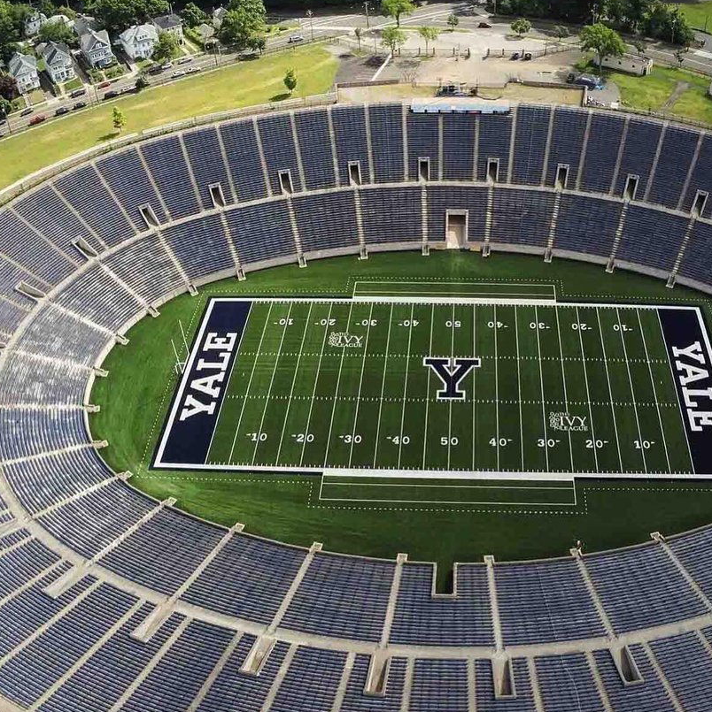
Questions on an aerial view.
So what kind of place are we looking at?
sports ground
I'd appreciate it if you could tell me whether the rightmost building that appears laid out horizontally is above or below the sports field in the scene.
above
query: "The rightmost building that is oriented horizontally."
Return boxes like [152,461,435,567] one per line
[596,50,650,76]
